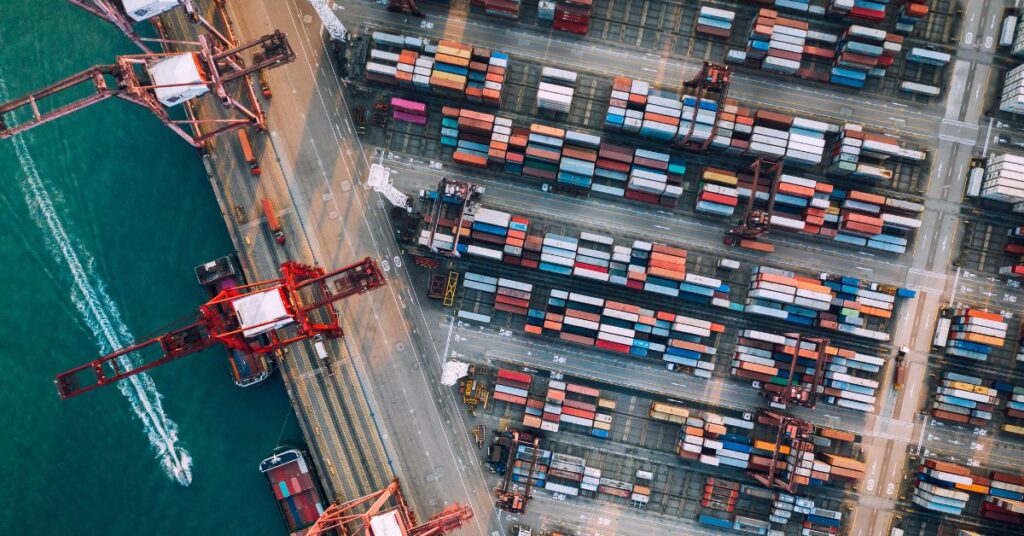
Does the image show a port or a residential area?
port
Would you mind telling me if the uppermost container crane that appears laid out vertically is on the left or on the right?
right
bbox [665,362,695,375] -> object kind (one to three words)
vehicle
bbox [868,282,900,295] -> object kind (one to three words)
vehicle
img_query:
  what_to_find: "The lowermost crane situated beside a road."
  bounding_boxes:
[304,480,482,536]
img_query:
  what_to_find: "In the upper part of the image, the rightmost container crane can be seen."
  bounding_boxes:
[723,156,784,241]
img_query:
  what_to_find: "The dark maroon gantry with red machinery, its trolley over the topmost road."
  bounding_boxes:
[675,63,731,152]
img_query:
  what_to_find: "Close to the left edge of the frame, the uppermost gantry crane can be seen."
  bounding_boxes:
[38,0,238,73]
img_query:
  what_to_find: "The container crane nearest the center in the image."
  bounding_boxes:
[427,179,478,259]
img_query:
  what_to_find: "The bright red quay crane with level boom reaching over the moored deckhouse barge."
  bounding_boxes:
[55,252,387,404]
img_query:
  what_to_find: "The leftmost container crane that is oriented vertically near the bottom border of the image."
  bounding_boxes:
[496,426,543,518]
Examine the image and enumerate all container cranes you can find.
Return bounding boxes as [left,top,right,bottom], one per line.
[675,63,731,152]
[723,156,784,241]
[496,426,543,518]
[744,406,808,496]
[304,480,482,536]
[0,16,299,160]
[427,179,478,259]
[761,328,827,411]
[38,0,238,73]
[55,252,387,404]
